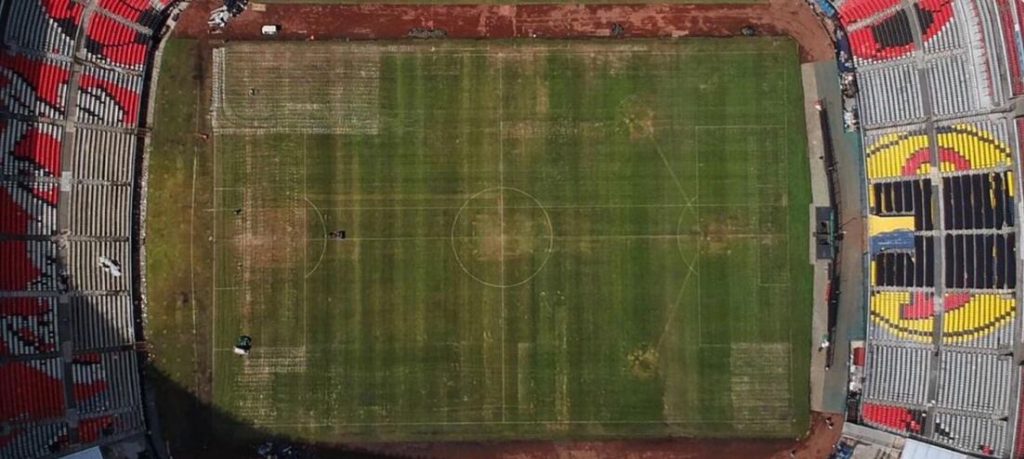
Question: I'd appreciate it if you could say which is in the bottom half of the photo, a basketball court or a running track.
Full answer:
What appears in the bottom half of the photo is a running track.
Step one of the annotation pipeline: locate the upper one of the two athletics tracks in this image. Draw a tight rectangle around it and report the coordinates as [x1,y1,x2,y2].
[170,0,835,62]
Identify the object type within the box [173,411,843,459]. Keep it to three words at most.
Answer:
running track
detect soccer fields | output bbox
[147,33,813,444]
